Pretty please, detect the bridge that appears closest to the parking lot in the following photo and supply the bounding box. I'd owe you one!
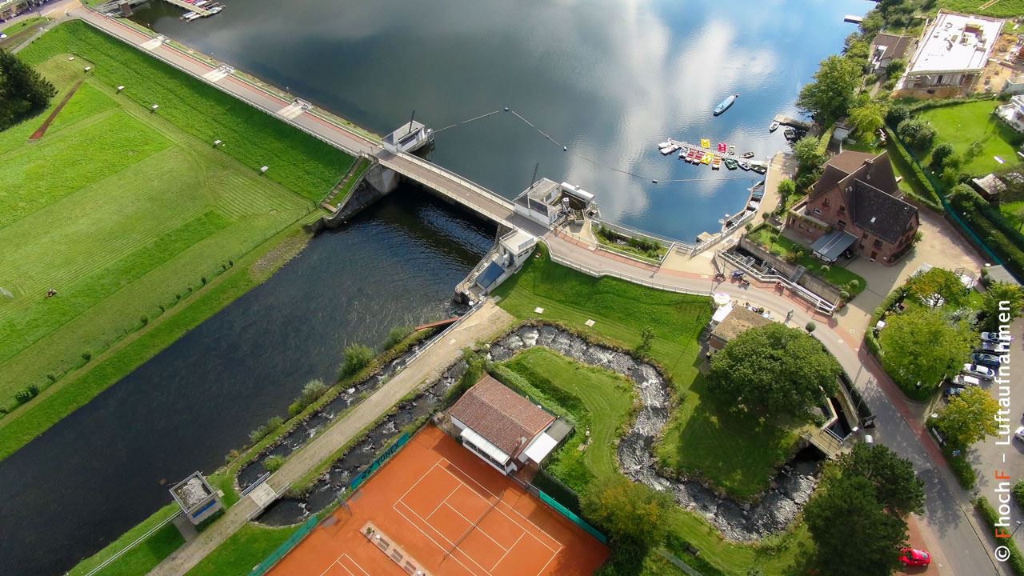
[802,423,845,459]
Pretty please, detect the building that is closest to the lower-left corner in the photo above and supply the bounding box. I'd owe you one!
[169,471,222,526]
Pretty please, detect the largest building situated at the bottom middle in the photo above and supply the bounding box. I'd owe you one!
[448,375,575,471]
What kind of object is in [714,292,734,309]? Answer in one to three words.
umbrella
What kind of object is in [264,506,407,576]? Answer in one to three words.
tennis court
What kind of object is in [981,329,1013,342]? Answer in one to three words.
vehicle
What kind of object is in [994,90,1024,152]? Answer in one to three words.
house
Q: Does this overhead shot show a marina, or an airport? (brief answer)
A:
marina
